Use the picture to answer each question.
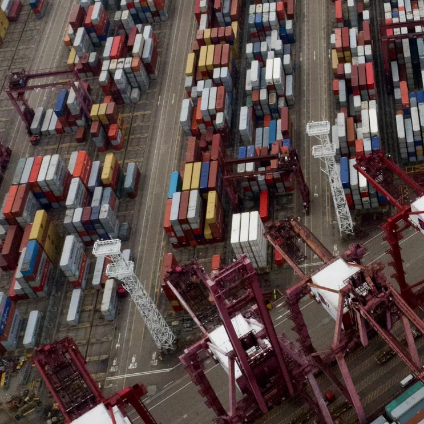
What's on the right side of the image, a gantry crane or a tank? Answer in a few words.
gantry crane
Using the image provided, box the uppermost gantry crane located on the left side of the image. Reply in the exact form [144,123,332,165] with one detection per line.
[0,65,93,141]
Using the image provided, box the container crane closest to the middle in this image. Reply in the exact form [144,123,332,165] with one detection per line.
[215,146,308,218]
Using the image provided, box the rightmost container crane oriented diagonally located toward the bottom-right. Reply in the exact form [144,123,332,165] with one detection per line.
[256,205,424,424]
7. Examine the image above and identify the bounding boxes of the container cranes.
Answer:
[378,19,424,92]
[215,146,308,218]
[29,335,165,424]
[256,205,424,424]
[0,65,93,141]
[357,148,424,313]
[158,262,336,424]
